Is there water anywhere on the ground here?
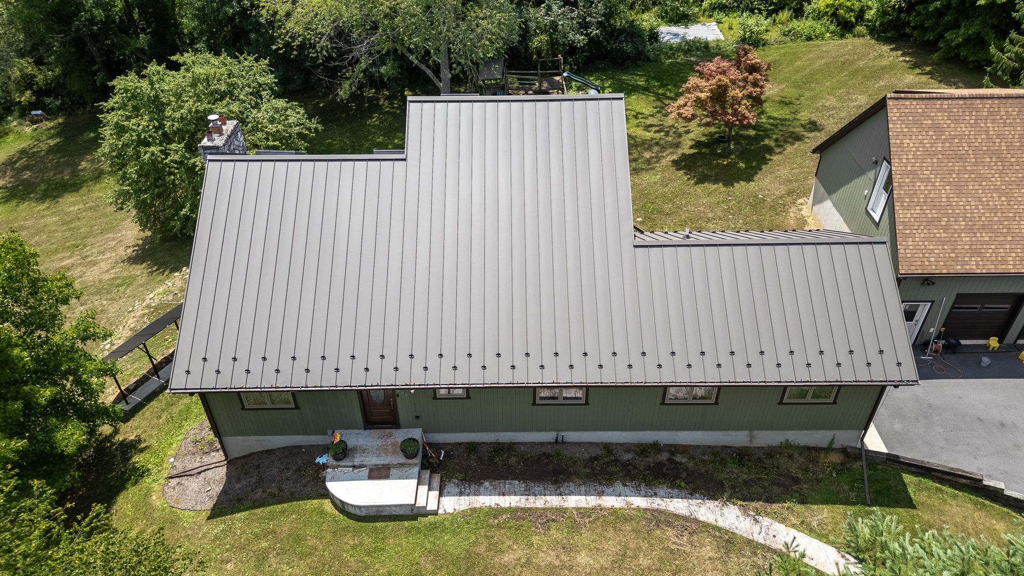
No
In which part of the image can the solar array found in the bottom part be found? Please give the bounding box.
[96,302,182,420]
